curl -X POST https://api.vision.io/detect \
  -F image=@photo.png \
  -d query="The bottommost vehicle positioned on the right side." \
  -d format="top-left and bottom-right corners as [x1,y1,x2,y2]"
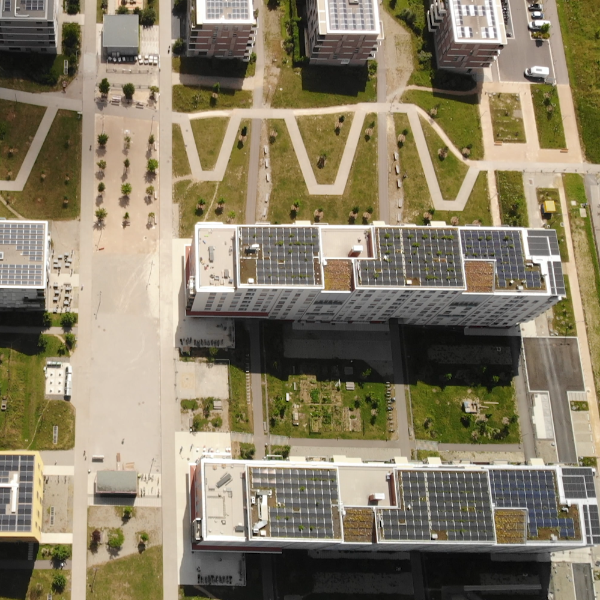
[526,64,553,78]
